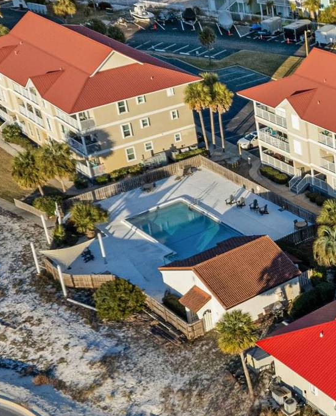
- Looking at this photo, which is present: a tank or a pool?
pool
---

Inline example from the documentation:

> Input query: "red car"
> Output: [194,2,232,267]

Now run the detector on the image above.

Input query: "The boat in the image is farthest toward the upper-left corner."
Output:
[123,3,153,22]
